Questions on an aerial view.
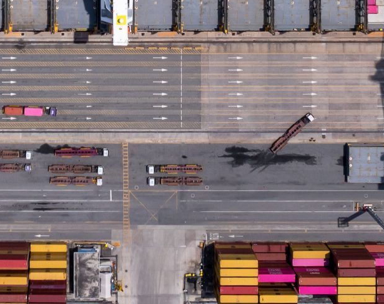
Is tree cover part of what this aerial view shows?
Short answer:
No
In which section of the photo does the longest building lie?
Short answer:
bottom left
